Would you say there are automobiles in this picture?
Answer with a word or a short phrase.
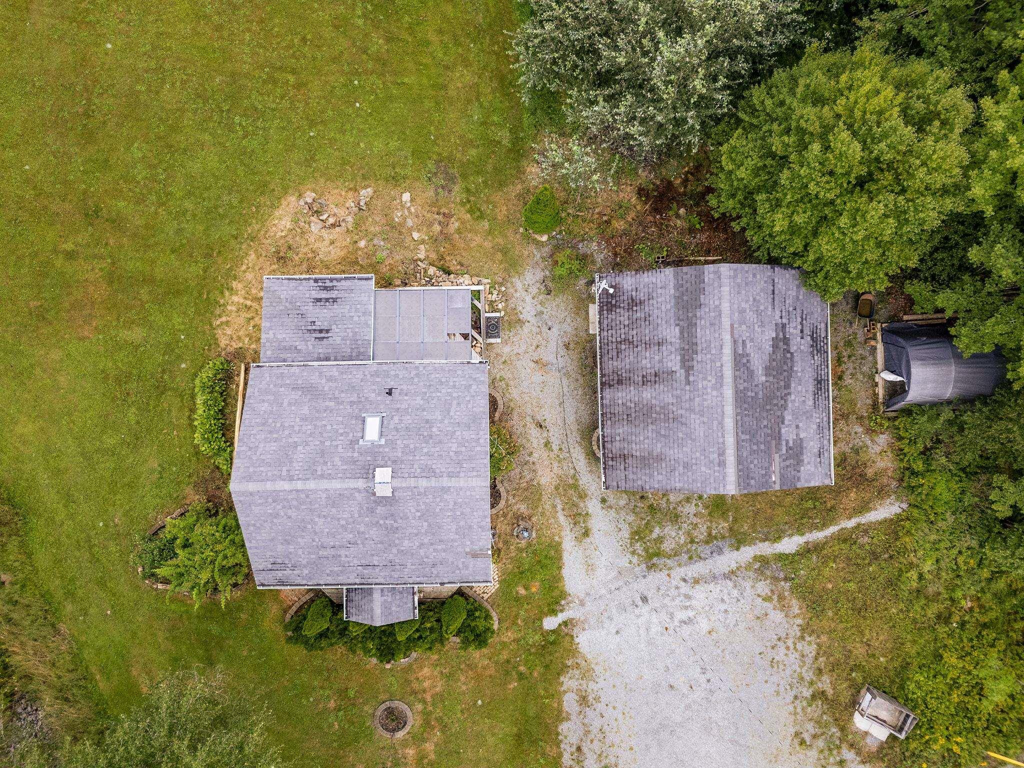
No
